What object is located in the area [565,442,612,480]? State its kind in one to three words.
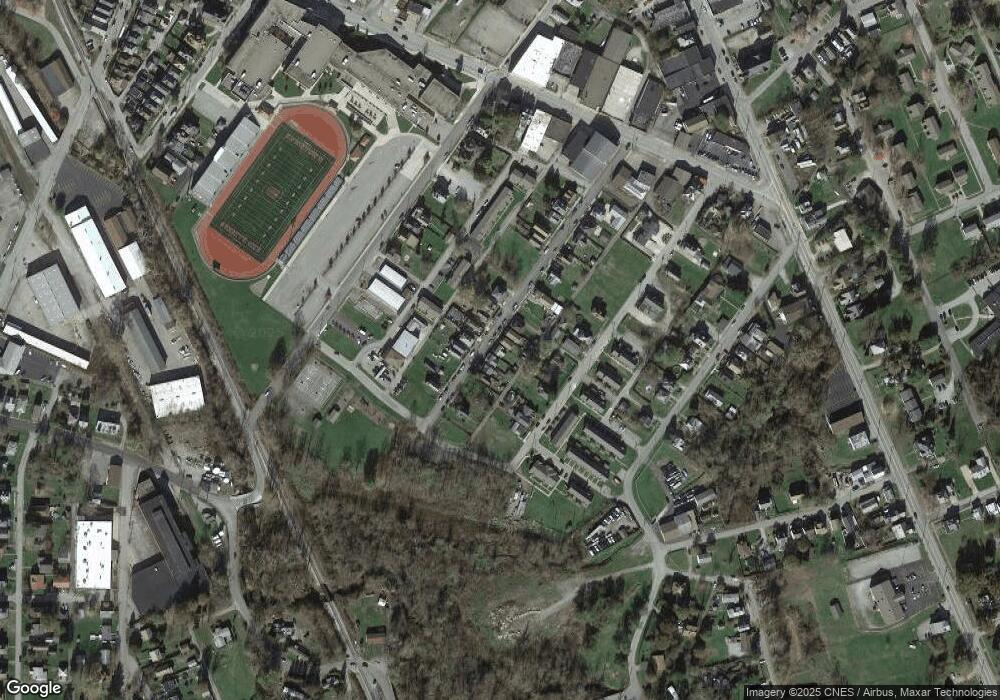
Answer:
building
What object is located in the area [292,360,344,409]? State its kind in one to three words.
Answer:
sports court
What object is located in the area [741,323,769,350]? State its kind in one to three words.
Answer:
house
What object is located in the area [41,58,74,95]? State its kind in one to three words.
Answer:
barn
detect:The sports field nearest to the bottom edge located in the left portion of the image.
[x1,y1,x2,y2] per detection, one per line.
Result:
[189,263,300,394]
